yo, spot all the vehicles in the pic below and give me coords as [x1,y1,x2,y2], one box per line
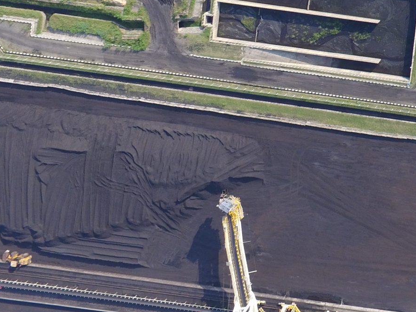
[278,291,314,312]
[215,188,271,312]
[7,247,34,262]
